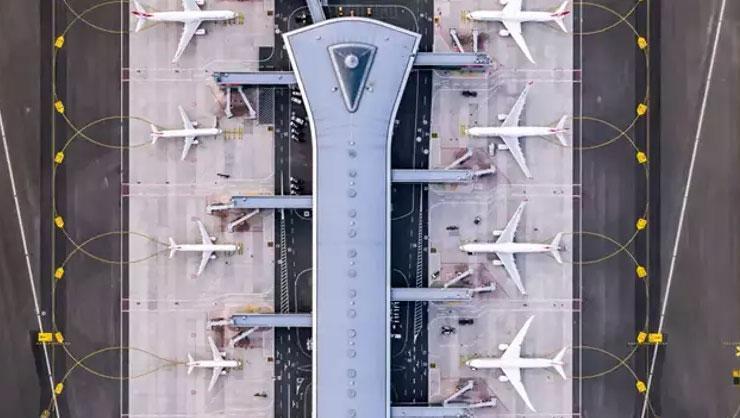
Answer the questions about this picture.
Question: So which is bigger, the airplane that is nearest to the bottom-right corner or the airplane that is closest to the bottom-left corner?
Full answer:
The airplane that is nearest to the bottom-right corner takes up more space than the airplane that is closest to the bottom-left corner does.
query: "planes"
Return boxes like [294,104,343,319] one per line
[465,83,569,178]
[460,200,564,294]
[467,0,569,64]
[466,315,568,413]
[186,337,241,391]
[134,0,238,61]
[151,104,222,159]
[169,219,240,276]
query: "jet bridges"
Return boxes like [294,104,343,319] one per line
[205,313,313,351]
[390,378,499,418]
[390,265,499,302]
[390,148,498,182]
[410,26,492,68]
[215,71,298,121]
[205,196,313,233]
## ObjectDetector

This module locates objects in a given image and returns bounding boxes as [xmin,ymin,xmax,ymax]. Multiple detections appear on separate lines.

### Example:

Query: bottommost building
[282,17,421,418]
